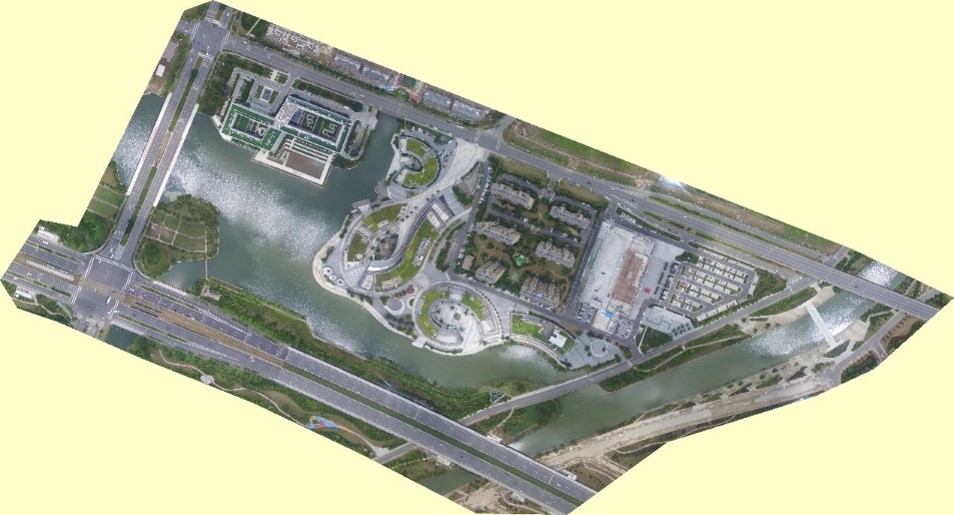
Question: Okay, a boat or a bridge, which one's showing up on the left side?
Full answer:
There is a bridge on the left side.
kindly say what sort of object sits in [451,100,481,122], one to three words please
shed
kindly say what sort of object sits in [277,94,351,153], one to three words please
building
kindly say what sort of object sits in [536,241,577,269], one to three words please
building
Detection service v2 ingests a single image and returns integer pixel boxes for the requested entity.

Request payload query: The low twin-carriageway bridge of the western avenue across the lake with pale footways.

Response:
[127,90,198,203]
